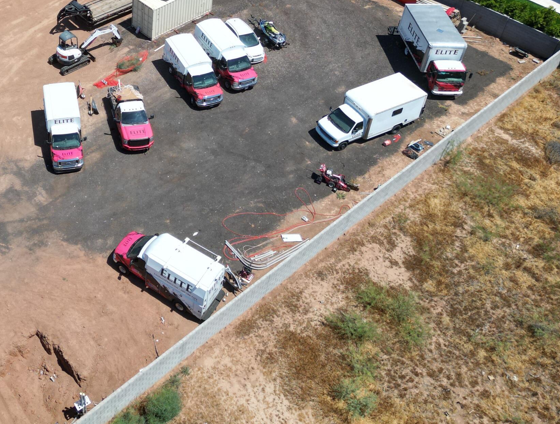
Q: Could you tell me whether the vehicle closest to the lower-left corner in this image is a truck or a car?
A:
truck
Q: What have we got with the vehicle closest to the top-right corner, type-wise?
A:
truck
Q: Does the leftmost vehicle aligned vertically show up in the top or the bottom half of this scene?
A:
top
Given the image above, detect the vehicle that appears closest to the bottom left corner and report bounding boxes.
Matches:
[111,229,228,321]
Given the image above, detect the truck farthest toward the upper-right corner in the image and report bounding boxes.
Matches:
[397,4,475,97]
